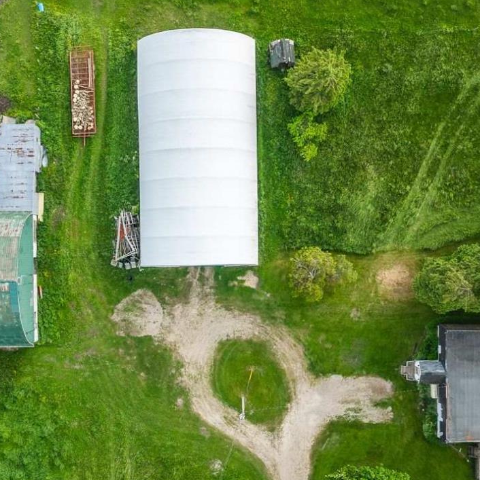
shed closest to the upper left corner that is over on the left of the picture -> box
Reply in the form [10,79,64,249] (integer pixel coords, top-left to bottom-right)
[0,115,44,213]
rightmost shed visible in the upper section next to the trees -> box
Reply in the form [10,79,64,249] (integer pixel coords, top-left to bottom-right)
[272,34,295,70]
